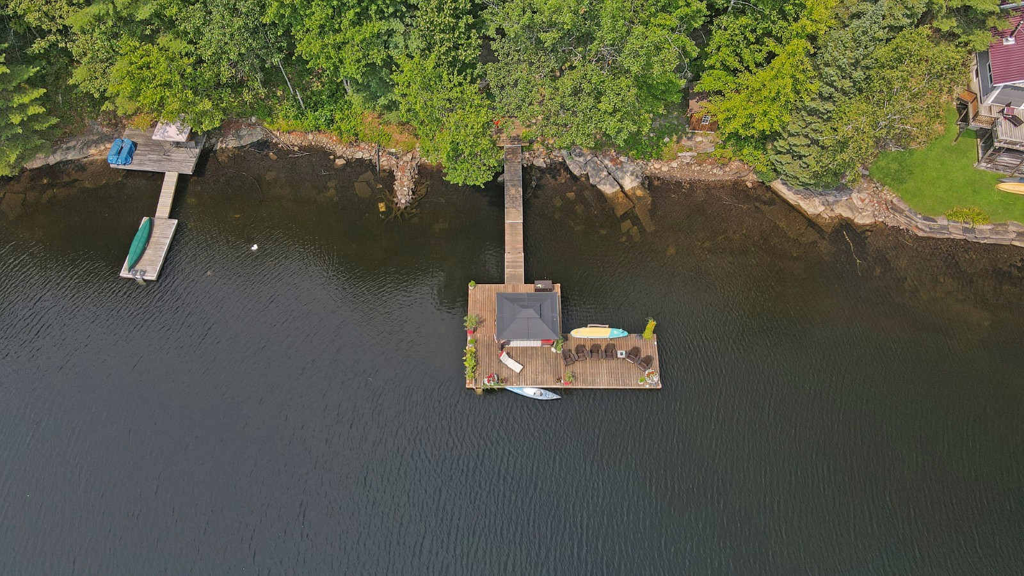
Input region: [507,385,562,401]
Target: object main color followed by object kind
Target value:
white boat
